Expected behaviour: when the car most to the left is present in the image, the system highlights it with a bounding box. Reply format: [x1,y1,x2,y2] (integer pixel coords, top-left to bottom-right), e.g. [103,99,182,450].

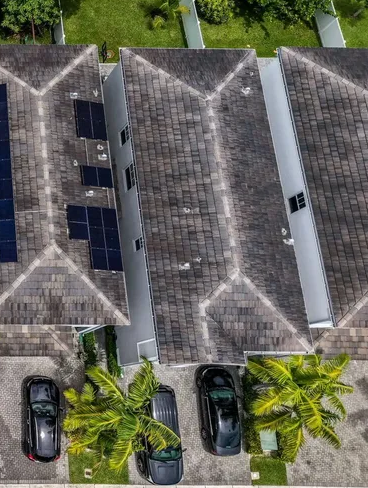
[21,376,65,466]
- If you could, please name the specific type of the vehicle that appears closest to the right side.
automobile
